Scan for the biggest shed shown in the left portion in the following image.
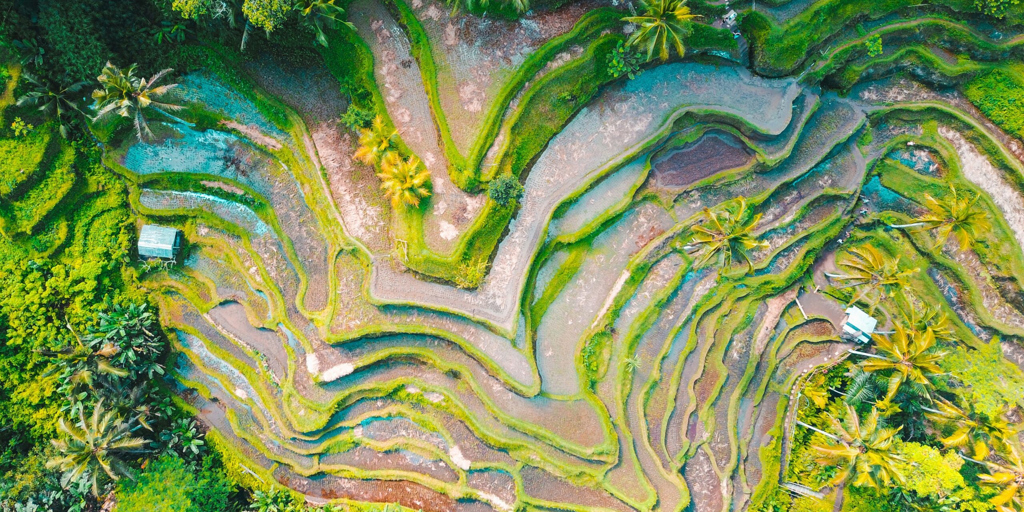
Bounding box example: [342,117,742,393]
[139,222,188,257]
